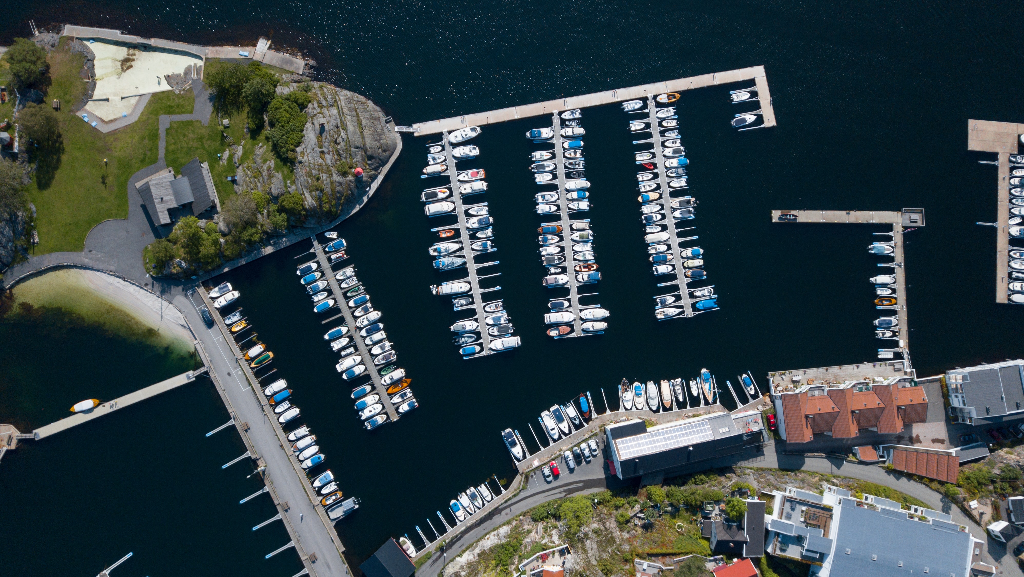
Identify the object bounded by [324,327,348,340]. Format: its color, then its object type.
blue boat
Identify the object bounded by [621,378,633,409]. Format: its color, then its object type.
white boat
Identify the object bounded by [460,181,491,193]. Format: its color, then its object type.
white boat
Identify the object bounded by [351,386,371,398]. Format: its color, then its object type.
blue boat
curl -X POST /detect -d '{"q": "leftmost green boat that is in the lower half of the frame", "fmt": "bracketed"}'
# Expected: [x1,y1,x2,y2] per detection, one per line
[251,353,274,367]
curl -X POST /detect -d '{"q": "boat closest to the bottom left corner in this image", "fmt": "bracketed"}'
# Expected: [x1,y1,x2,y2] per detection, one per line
[70,399,100,412]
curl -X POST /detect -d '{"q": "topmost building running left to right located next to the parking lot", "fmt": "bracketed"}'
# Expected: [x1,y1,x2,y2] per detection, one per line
[603,410,765,478]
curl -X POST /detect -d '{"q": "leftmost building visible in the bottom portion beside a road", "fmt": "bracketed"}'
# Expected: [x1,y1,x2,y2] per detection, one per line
[359,537,416,577]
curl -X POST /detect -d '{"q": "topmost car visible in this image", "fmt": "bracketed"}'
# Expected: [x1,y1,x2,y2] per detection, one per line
[201,308,213,324]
